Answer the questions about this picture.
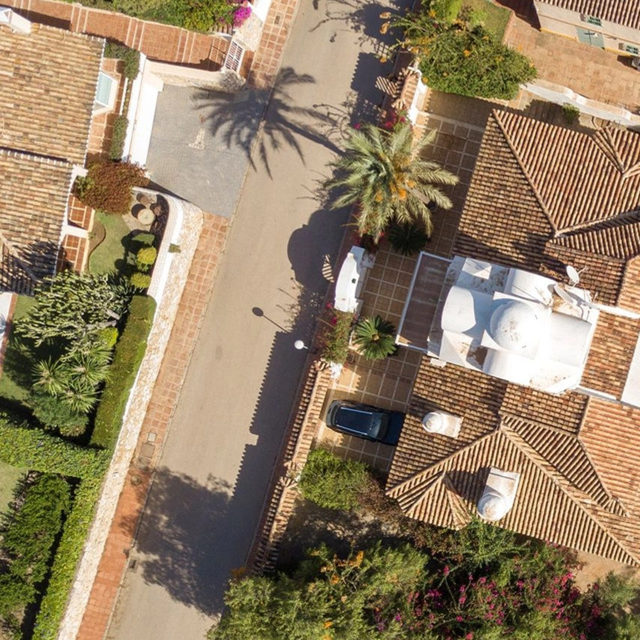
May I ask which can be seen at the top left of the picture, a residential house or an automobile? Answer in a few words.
residential house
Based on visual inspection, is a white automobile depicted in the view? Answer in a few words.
No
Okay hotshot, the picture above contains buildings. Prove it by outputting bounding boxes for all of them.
[0,5,131,294]
[537,0,640,59]
[384,109,640,567]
